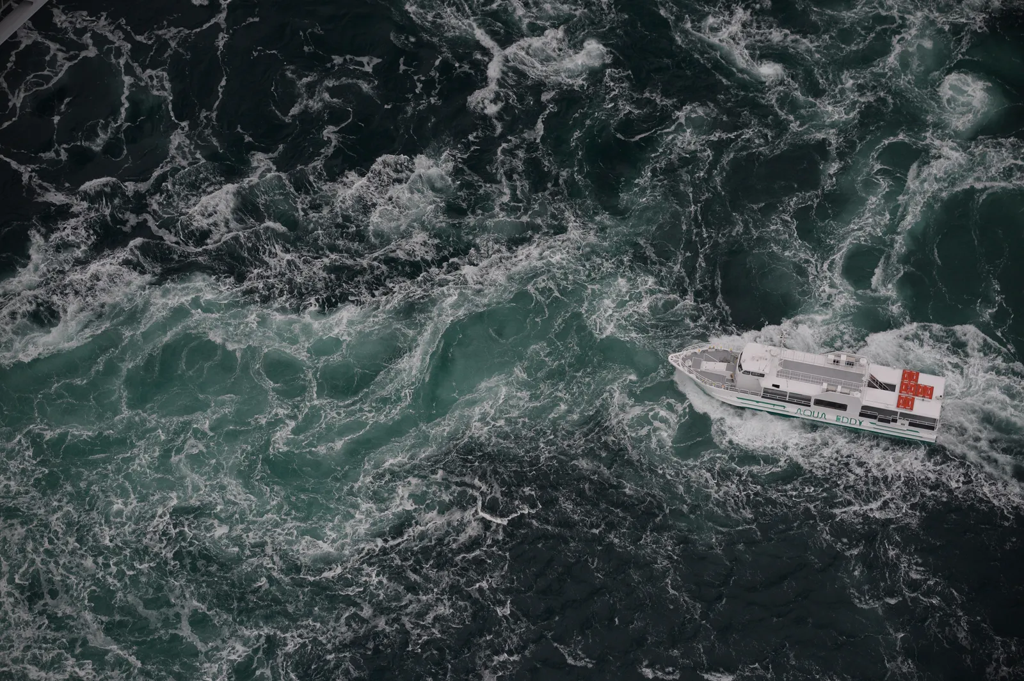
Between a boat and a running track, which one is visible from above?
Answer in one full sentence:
The image shows a boat.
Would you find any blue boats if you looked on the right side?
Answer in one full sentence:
No, the scene shows no blue boat on the right side.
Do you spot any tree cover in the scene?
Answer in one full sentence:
No, no tree cover is visible.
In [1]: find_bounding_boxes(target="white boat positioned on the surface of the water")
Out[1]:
[668,325,945,442]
